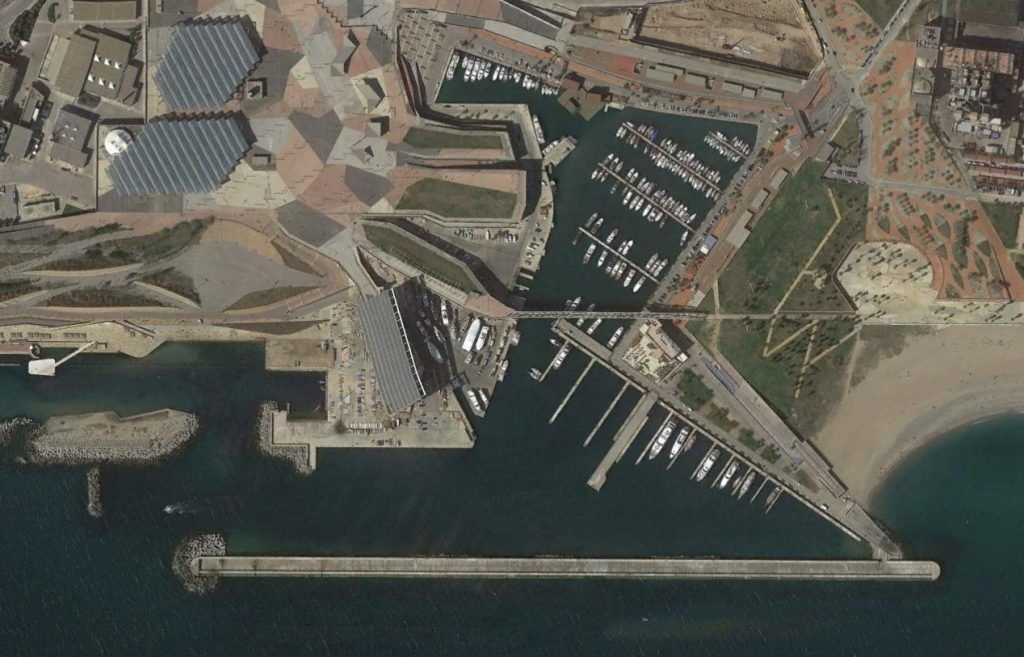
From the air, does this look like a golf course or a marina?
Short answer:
marina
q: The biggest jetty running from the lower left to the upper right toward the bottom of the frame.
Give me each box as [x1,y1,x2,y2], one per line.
[587,395,658,491]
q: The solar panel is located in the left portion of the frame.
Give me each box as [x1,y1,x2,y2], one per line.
[359,289,420,413]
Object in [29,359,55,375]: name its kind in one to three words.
pier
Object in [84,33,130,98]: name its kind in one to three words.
building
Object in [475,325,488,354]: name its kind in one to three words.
boat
